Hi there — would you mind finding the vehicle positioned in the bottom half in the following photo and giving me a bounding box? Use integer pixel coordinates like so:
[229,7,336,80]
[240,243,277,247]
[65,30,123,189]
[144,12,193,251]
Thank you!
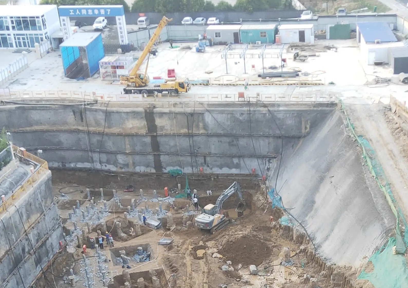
[195,166,241,234]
